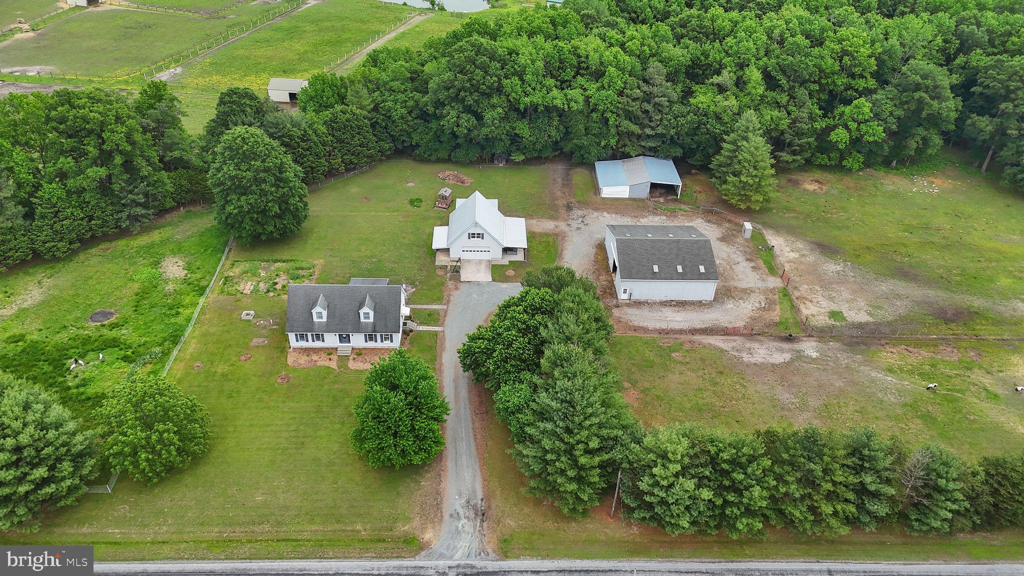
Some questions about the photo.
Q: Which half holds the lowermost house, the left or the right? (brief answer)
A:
left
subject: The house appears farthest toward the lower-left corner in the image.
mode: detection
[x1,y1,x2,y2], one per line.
[284,278,411,360]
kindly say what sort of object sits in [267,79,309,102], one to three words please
shed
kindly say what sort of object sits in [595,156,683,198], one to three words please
shed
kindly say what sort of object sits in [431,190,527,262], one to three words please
building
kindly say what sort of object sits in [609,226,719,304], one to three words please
barn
